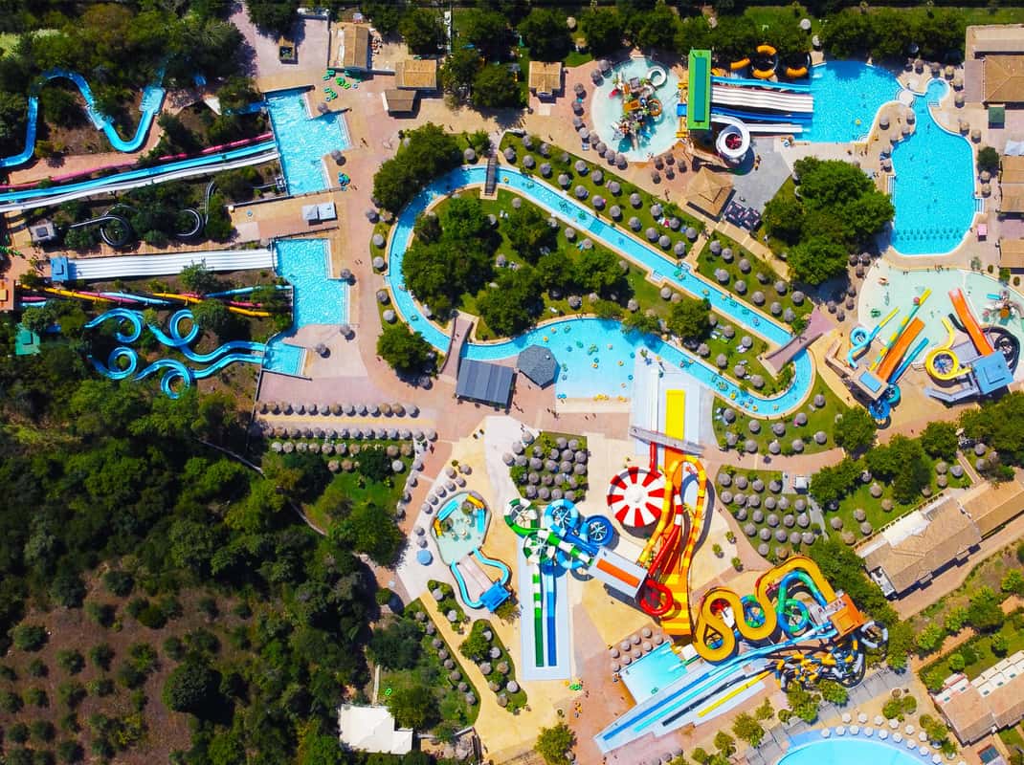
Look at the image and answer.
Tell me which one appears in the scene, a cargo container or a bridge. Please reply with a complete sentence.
Of the two, only a bridge appears.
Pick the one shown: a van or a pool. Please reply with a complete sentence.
This aerial view contains a pool.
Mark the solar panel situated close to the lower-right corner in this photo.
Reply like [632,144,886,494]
[977,744,1001,765]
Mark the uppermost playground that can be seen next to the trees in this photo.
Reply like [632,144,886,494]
[603,70,665,147]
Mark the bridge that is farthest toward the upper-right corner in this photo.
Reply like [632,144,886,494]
[766,307,828,374]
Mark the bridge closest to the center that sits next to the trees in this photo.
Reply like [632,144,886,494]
[439,317,473,378]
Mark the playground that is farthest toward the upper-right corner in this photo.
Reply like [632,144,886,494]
[988,292,1024,325]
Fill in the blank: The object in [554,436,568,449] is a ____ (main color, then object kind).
gray umbrella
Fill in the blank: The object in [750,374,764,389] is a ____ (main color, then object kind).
gray umbrella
